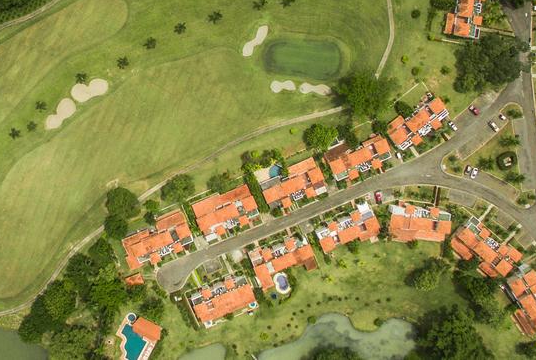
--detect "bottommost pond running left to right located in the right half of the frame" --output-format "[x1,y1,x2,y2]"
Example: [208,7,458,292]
[257,312,422,360]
